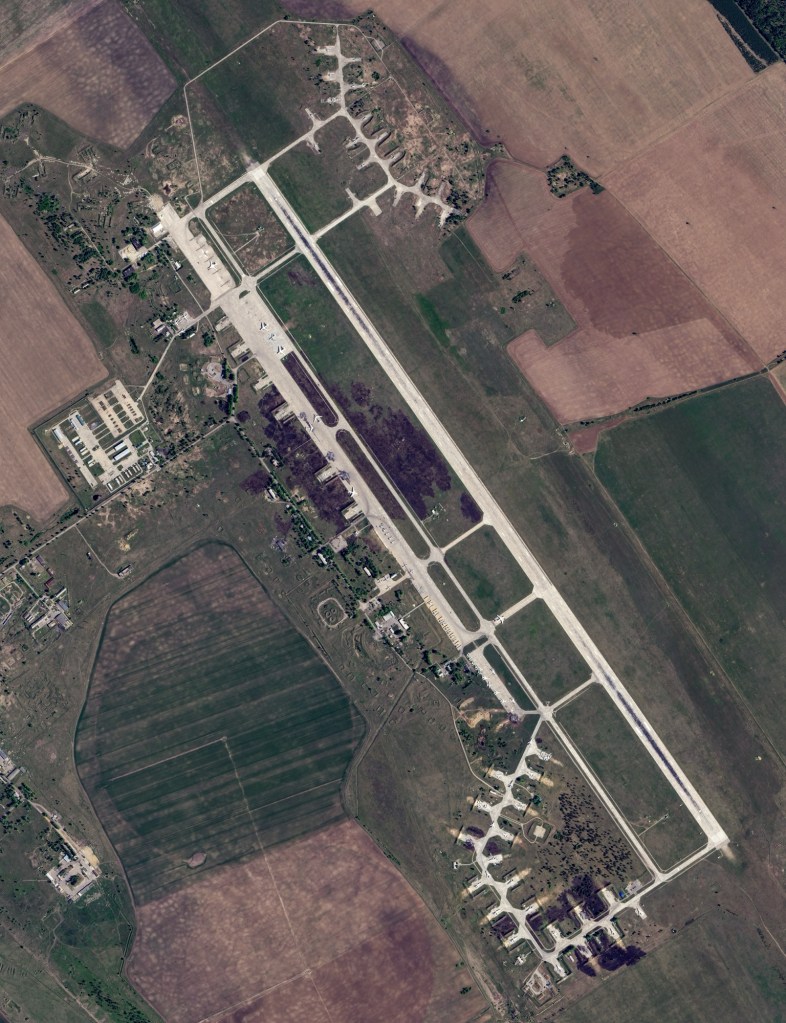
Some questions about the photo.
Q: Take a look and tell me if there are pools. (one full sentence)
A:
No, there isn't any pool down there.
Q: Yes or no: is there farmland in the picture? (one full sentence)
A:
Yes, there is farmland in the image.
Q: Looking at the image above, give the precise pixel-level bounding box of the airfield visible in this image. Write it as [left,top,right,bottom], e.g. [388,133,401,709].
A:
[147,24,731,984]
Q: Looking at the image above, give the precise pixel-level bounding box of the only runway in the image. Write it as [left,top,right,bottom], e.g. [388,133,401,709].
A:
[252,167,729,848]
